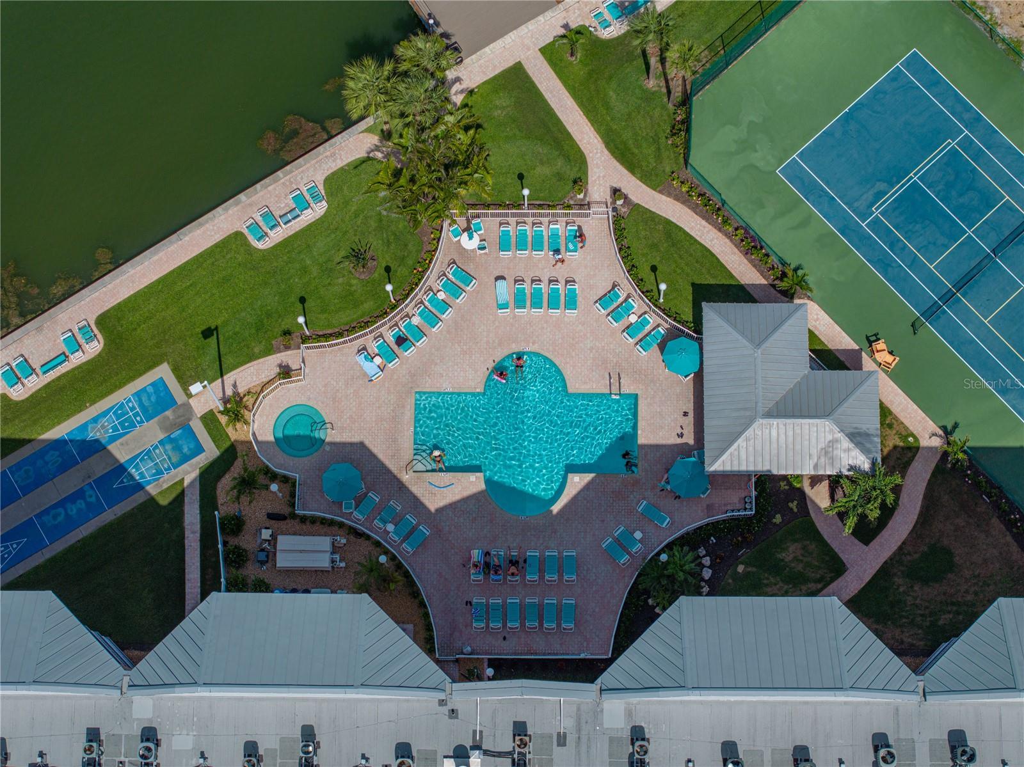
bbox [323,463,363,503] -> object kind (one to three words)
umbrella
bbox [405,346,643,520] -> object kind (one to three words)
swimming pool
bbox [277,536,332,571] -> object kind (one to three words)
shed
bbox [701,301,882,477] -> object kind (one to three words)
building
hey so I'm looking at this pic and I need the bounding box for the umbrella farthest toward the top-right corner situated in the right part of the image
[662,340,699,376]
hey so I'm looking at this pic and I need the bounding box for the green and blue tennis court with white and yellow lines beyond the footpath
[688,0,1024,510]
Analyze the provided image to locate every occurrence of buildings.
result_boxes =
[0,591,1024,767]
[701,301,882,477]
[277,536,332,571]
